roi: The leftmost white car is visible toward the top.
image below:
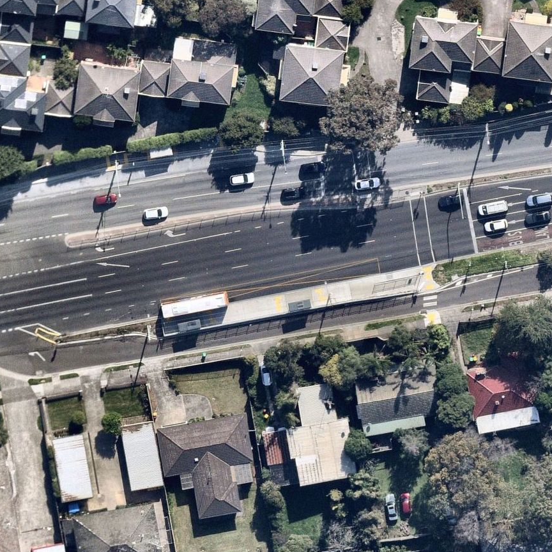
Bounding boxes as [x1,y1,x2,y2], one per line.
[144,207,166,220]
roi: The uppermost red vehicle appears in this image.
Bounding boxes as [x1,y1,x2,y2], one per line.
[95,193,117,206]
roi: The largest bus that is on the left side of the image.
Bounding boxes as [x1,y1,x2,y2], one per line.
[159,297,228,323]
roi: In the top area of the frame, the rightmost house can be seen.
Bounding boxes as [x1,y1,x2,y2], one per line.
[503,11,552,83]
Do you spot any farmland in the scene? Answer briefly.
No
